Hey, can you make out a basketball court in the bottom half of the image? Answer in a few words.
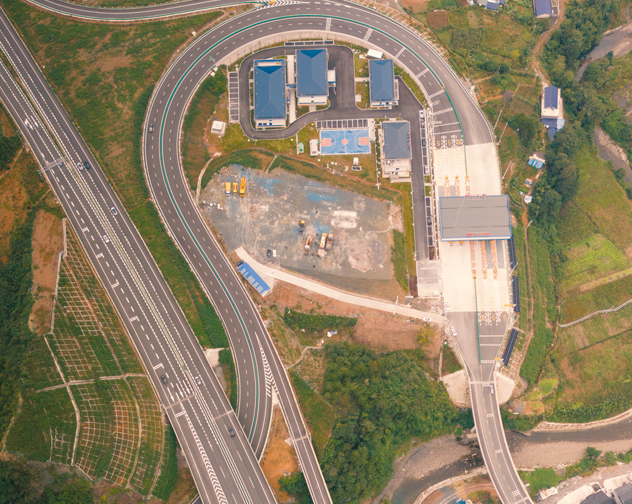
No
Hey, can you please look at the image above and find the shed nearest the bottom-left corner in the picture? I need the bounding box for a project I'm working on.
[237,262,272,296]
